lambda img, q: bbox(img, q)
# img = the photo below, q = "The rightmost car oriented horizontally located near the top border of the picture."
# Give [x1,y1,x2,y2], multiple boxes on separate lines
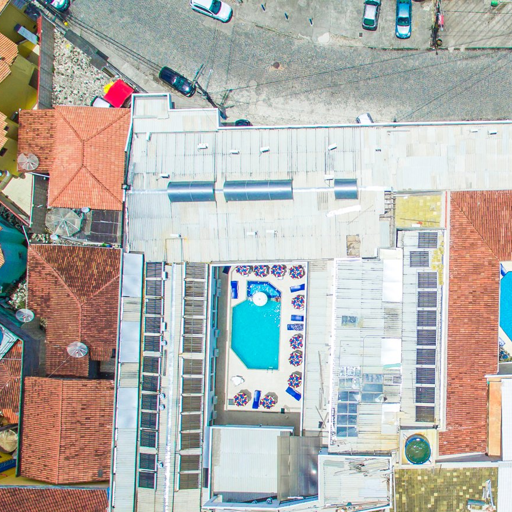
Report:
[189,0,234,23]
